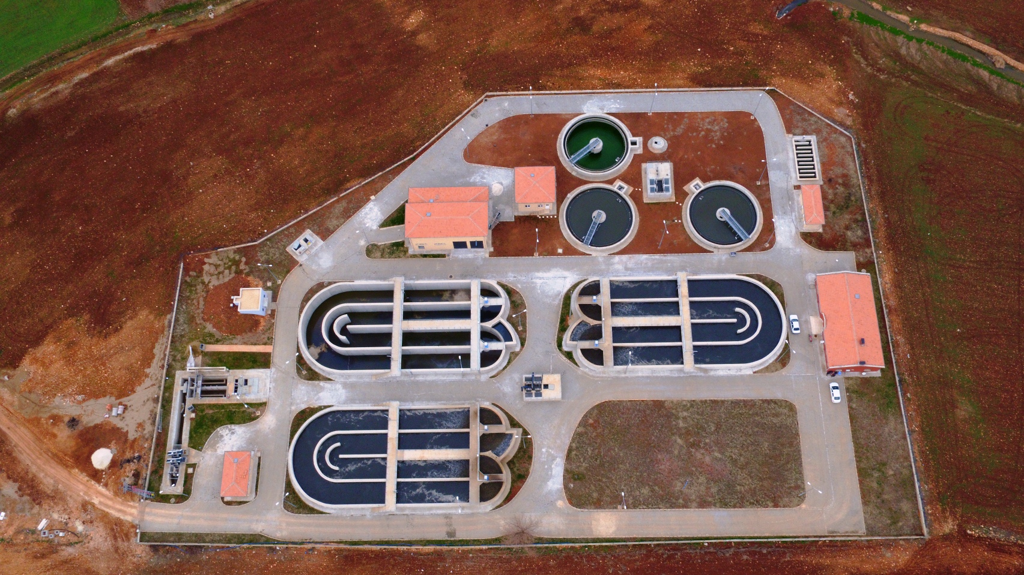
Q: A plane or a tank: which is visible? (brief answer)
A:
tank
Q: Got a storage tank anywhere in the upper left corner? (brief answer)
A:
No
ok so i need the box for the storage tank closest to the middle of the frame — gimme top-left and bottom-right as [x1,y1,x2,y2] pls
[559,178,639,256]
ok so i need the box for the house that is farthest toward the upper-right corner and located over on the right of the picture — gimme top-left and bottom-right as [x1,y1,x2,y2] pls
[793,184,828,232]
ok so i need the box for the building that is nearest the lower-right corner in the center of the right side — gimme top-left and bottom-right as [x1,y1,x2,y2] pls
[807,272,885,378]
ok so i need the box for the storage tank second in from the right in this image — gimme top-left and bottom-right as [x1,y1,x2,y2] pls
[682,176,763,254]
